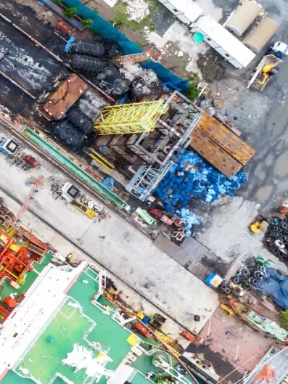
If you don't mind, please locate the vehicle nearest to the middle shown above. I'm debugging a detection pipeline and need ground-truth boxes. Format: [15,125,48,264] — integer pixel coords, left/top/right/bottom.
[150,205,176,227]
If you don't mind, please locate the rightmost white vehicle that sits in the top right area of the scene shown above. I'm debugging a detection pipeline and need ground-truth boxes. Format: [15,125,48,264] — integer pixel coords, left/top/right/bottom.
[246,43,288,91]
